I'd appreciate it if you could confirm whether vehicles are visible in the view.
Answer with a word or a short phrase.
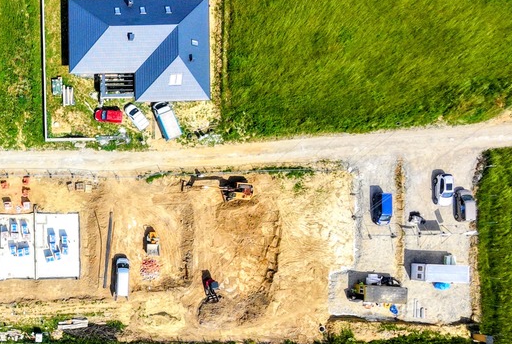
Yes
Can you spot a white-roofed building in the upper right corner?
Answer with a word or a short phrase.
No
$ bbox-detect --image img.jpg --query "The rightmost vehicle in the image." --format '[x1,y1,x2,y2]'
[456,189,474,221]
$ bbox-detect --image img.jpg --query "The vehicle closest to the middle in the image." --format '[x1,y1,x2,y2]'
[191,184,259,202]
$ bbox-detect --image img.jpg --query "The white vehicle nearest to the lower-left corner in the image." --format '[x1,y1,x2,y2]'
[114,256,130,299]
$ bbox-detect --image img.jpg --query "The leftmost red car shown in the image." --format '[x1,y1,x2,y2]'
[94,108,124,123]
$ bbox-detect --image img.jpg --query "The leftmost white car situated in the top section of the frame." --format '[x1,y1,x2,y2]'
[124,103,149,133]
